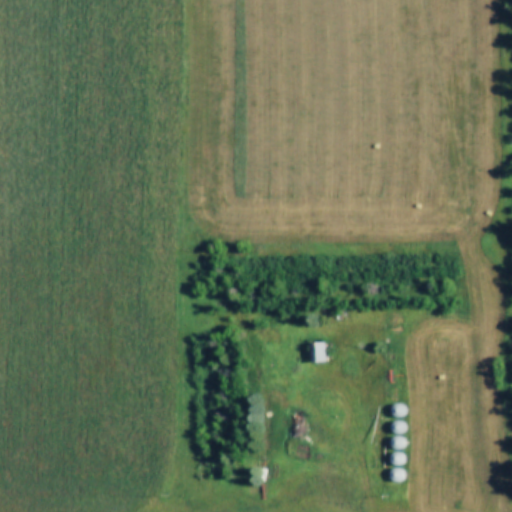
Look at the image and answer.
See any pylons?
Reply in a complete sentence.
No, no pylon can be seen from above.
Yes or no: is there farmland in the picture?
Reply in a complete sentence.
Yes, there is farmland in the image.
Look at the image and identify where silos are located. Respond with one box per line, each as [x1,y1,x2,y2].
[390,452,406,467]
[392,420,408,435]
[391,436,408,451]
[390,468,406,484]
[391,402,408,418]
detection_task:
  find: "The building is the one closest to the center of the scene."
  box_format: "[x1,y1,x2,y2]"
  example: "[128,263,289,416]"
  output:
[312,342,328,363]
